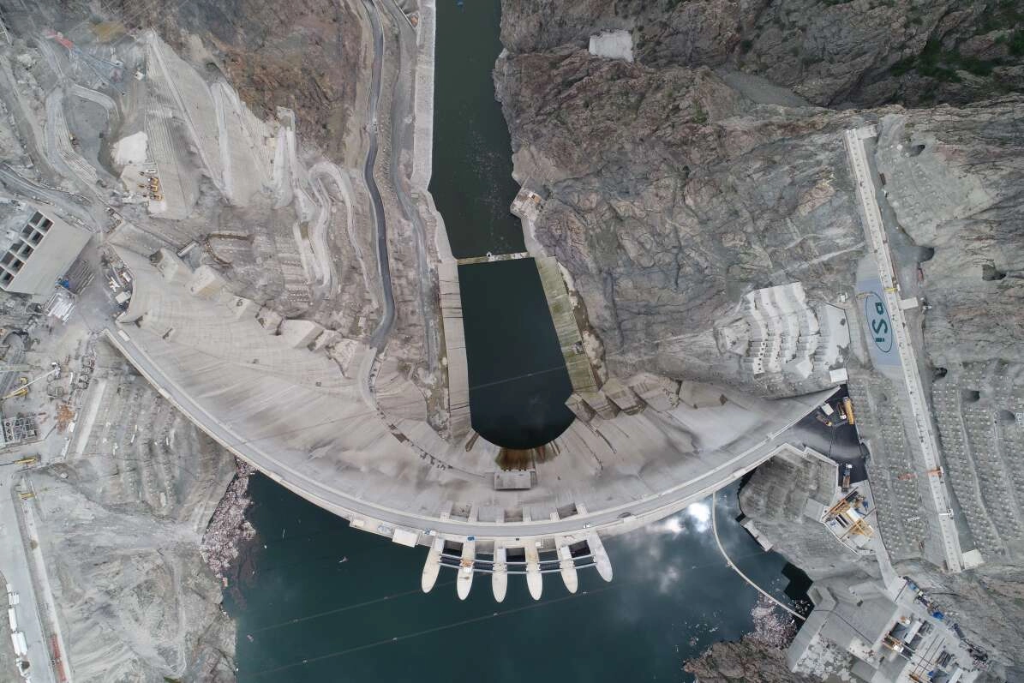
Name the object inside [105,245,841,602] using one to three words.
dam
